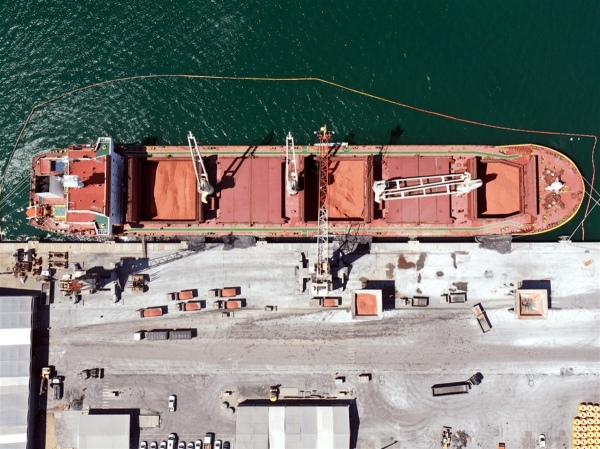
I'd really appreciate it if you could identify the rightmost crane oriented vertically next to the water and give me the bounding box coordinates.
[301,121,347,298]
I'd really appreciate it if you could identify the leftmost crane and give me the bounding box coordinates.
[55,261,118,306]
